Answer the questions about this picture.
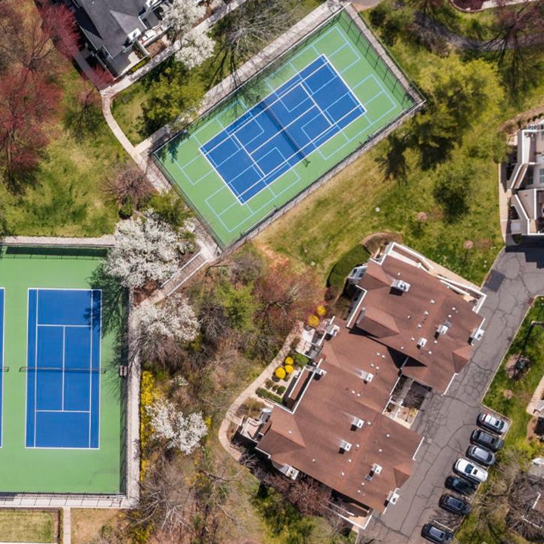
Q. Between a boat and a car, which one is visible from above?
car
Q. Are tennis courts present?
Yes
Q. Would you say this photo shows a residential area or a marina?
residential area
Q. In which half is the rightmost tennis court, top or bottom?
top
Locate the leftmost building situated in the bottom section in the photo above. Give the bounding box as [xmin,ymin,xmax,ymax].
[234,242,487,531]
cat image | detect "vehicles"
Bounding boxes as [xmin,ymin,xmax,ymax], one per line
[474,411,511,435]
[462,442,496,468]
[468,428,504,453]
[442,473,478,499]
[452,458,489,483]
[435,492,472,517]
[419,522,455,544]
